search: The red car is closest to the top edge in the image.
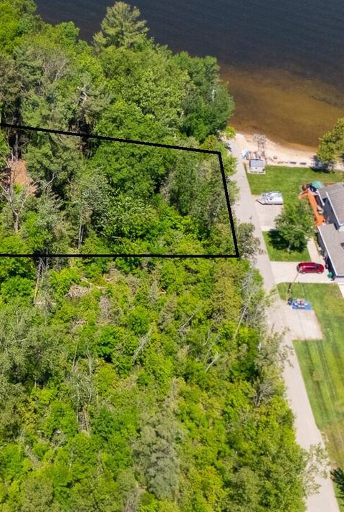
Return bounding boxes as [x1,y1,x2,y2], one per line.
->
[297,261,327,274]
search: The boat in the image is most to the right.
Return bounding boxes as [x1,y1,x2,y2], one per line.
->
[259,192,287,206]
